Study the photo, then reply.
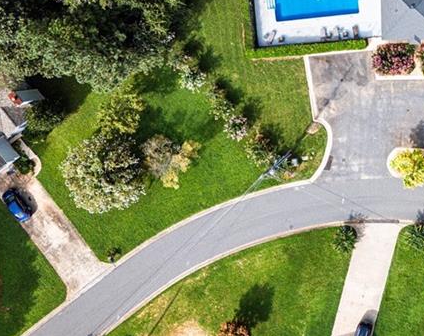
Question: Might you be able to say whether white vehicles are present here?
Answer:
No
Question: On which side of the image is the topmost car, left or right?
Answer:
left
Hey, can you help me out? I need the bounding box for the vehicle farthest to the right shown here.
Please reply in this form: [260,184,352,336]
[355,322,372,336]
